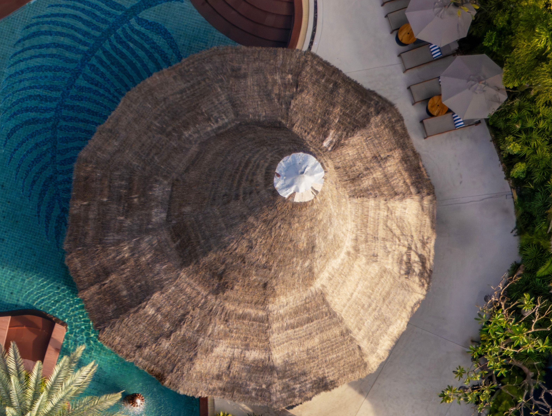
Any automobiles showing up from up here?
No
